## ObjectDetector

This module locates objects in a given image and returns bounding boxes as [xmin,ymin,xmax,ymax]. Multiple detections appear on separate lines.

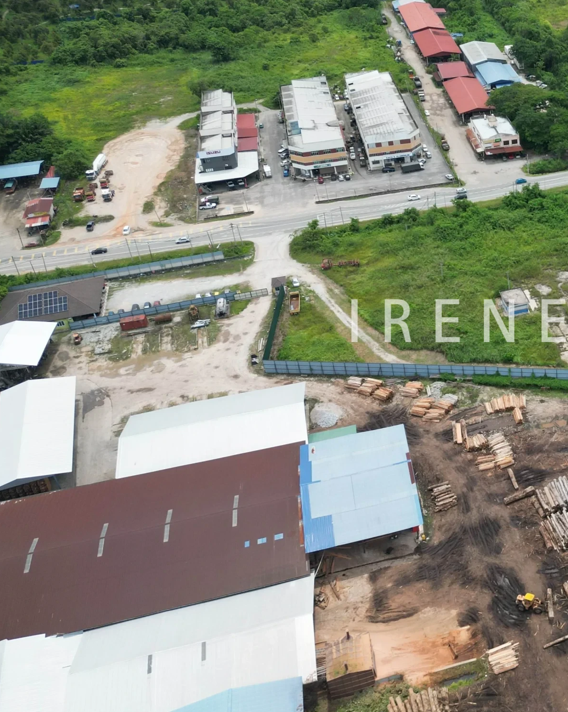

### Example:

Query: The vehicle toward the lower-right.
[512,589,558,613]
